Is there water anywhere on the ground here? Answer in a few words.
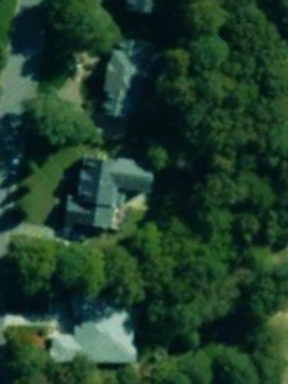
No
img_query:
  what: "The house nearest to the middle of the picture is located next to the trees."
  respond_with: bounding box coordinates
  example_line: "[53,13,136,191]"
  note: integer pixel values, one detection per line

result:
[63,155,155,231]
